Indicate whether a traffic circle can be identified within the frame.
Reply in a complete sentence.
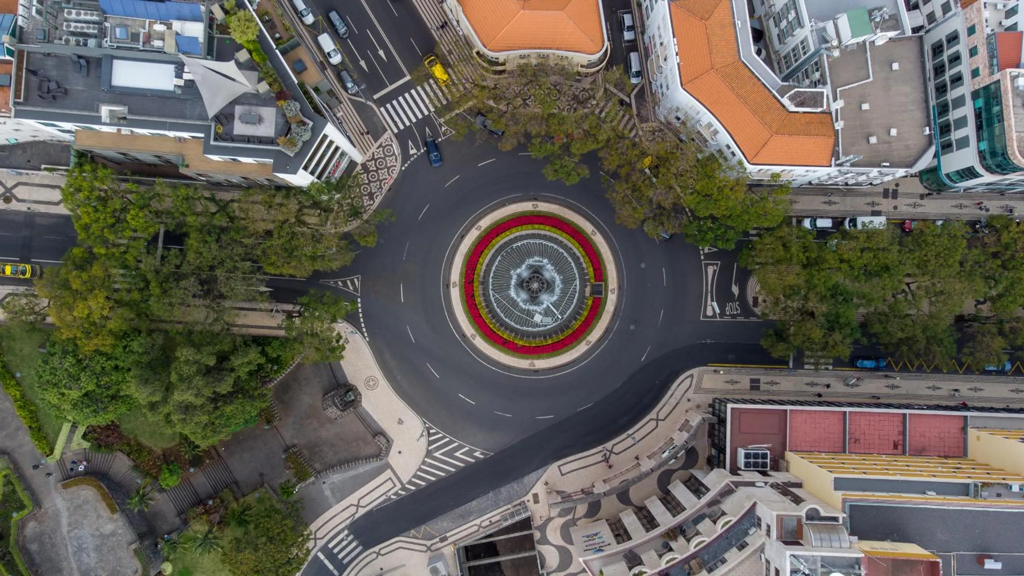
Yes, you can see a traffic circle in this photo.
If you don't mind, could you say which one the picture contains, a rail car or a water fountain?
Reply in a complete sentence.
Looking from above, you can make out a water fountain.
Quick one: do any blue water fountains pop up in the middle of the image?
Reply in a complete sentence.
No, in the middle of the image there is no blue water fountain.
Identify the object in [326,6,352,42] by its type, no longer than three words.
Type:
car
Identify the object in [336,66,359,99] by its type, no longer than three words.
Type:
car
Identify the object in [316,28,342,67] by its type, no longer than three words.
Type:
vehicle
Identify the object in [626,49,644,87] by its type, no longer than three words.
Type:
vehicle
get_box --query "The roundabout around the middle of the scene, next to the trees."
[401,153,666,417]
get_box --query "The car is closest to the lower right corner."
[981,359,1014,375]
